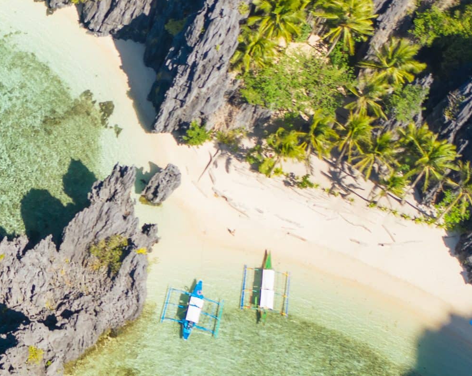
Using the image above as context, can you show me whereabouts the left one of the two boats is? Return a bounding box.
[159,279,228,344]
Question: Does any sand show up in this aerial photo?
Yes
